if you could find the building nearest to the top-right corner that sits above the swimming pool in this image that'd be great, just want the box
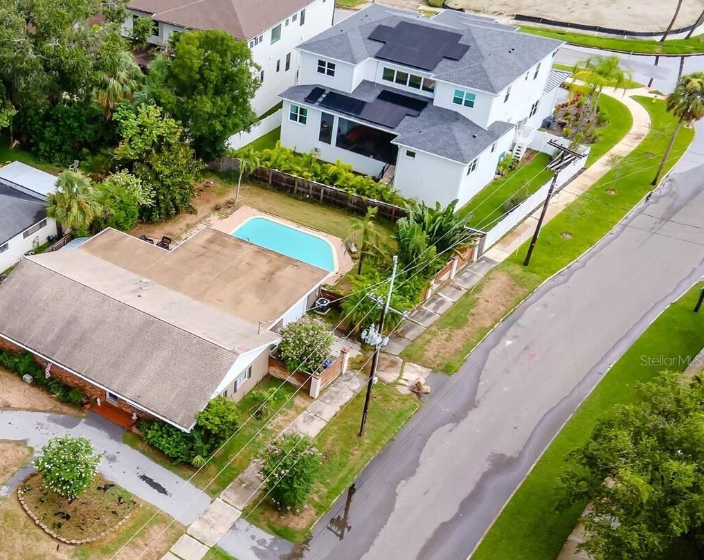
[278,5,572,208]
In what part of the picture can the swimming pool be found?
center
